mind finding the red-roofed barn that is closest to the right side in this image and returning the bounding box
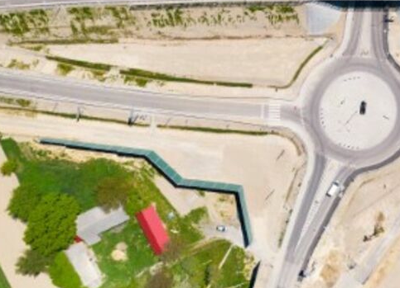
[135,203,172,253]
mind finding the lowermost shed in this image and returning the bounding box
[63,240,109,284]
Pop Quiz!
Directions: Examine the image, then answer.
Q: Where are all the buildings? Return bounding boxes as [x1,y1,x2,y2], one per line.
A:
[76,203,113,243]
[135,203,172,253]
[63,240,109,284]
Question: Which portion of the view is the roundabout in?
right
